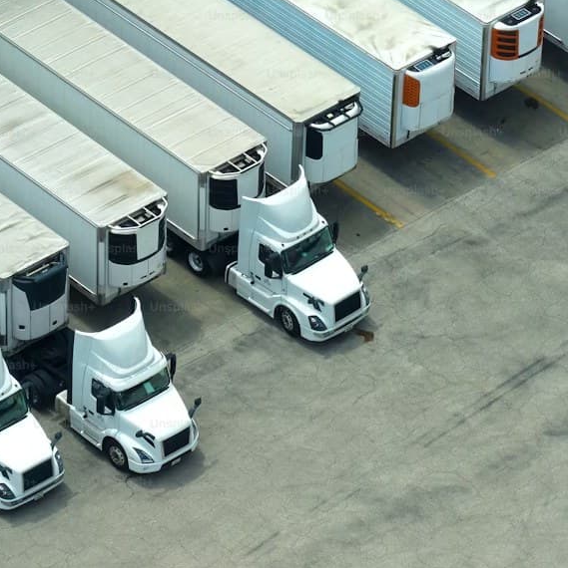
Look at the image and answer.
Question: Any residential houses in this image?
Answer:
No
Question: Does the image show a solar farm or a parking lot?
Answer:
parking lot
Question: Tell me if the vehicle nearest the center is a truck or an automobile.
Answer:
truck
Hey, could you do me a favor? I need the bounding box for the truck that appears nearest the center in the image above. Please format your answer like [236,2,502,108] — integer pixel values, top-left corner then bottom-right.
[166,166,369,341]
